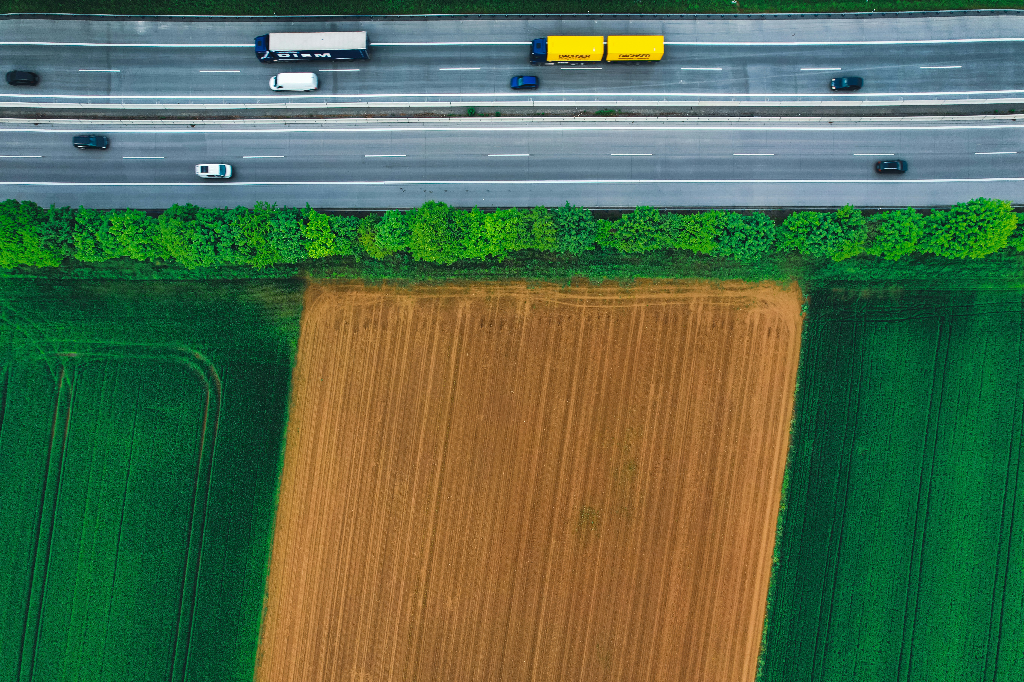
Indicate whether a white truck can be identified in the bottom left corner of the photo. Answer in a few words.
No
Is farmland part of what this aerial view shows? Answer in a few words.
Yes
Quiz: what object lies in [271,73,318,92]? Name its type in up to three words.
vehicle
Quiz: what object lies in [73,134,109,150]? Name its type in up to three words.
car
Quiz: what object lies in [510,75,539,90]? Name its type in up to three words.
car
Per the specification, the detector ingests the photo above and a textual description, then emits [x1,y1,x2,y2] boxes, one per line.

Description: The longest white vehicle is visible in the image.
[254,31,370,62]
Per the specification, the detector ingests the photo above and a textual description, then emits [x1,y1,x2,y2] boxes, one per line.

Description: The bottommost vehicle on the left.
[196,163,233,179]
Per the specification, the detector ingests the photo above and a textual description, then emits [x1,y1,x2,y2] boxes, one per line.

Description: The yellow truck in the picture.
[529,36,663,65]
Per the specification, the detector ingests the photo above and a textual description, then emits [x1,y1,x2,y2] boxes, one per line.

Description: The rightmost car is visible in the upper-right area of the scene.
[875,159,907,175]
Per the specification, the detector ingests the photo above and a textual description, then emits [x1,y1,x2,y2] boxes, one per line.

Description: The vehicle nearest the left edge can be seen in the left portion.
[7,70,39,86]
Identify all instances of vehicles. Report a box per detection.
[196,163,233,179]
[254,31,370,62]
[875,159,907,175]
[7,70,39,86]
[73,134,109,150]
[830,76,864,92]
[510,75,539,90]
[271,73,318,92]
[529,36,663,65]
